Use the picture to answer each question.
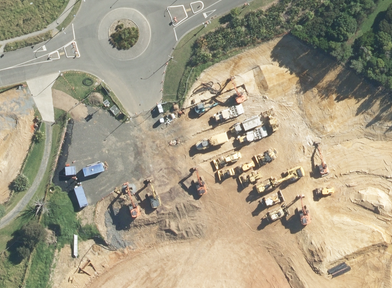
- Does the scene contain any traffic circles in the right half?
No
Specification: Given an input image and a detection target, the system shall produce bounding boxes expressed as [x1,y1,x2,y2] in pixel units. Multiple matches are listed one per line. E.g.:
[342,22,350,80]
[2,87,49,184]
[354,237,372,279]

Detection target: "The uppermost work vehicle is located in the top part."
[230,76,250,106]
